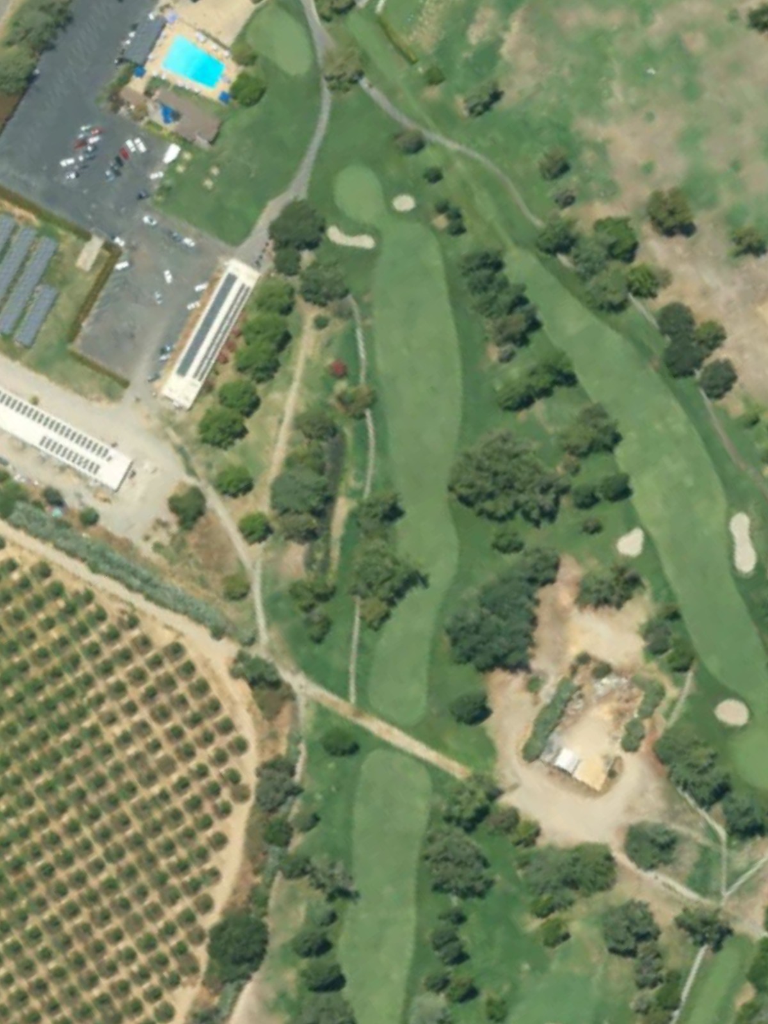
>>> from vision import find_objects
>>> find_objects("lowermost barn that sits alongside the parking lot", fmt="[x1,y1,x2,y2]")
[0,388,131,490]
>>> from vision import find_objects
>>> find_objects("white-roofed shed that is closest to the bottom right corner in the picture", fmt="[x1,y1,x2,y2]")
[554,749,580,775]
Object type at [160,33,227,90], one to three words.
swimming pool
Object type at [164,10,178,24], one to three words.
umbrella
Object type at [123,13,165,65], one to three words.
building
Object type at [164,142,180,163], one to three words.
vehicle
